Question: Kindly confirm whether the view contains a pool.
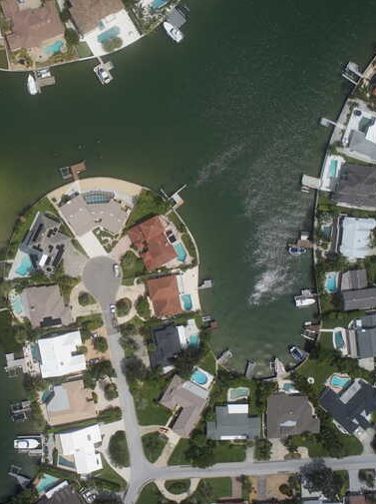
Yes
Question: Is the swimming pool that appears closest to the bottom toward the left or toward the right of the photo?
left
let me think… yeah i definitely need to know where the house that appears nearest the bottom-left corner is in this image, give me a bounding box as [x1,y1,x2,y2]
[44,480,80,504]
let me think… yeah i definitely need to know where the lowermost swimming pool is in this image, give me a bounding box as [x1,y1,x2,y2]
[36,474,60,495]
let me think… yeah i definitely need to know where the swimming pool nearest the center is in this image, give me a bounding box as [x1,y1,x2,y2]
[173,243,188,263]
